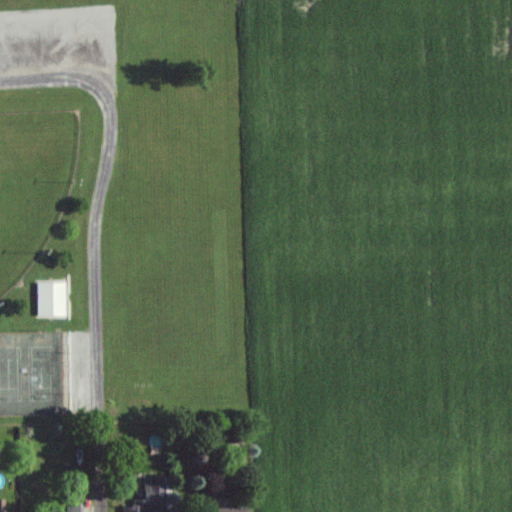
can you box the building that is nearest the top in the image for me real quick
[38,280,67,318]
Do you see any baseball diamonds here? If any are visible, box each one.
[0,110,81,301]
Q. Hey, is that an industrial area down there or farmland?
farmland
